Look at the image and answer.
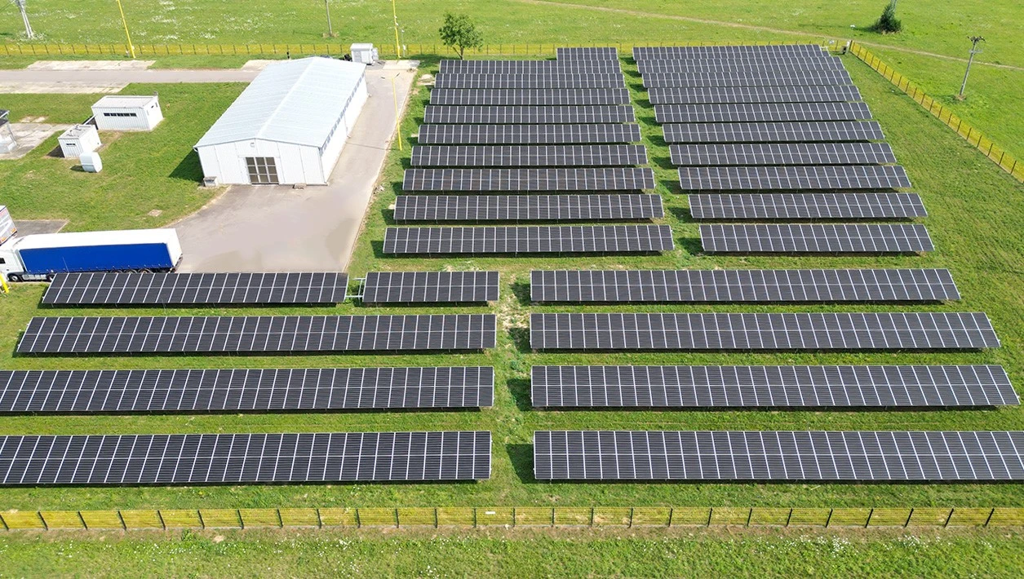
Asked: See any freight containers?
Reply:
Yes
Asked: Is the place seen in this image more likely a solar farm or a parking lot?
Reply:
solar farm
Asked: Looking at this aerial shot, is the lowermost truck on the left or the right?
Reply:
left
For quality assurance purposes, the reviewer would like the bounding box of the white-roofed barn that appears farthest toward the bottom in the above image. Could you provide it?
[193,55,372,184]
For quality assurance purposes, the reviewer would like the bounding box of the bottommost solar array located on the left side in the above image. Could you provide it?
[0,431,493,487]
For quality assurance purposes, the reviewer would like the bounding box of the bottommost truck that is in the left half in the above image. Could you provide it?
[0,228,182,282]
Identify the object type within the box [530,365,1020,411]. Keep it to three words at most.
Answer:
solar array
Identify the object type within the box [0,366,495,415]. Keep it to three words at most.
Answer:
solar array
